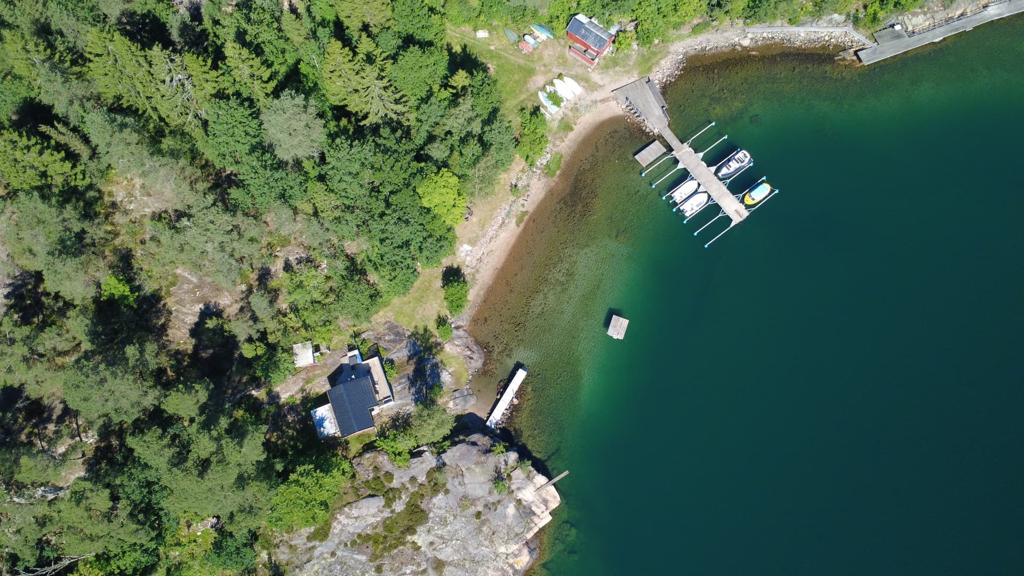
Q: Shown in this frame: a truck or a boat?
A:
boat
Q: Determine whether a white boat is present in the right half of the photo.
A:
Yes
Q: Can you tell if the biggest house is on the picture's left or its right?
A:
left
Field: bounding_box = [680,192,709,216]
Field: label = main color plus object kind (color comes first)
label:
white boat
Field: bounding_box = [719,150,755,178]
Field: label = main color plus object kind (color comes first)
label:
white boat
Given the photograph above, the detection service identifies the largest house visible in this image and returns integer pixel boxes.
[312,375,379,437]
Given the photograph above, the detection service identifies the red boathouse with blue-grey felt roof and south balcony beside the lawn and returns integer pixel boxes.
[567,11,615,71]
